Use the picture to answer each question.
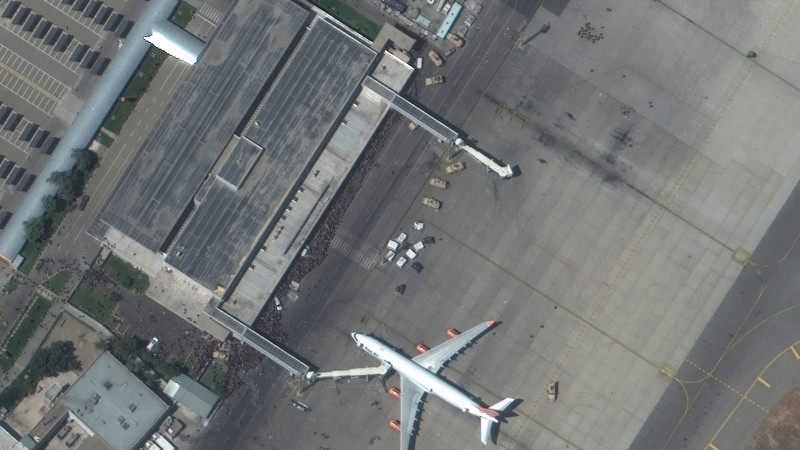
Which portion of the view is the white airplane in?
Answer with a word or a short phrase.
bottom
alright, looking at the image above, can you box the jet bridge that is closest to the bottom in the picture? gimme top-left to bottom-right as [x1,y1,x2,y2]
[305,359,390,384]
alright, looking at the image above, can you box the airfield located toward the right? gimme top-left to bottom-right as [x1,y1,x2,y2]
[259,0,800,450]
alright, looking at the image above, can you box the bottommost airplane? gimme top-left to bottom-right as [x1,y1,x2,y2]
[351,325,514,450]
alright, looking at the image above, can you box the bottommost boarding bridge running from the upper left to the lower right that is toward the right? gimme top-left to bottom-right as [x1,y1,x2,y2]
[454,137,513,177]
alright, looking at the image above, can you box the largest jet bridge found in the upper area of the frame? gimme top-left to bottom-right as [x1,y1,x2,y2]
[361,76,459,146]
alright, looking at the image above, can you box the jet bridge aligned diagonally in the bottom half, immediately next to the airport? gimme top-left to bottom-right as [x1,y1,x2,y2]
[203,297,311,378]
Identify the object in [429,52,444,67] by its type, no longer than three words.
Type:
vehicle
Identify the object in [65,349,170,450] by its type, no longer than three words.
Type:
building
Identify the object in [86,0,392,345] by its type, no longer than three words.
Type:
building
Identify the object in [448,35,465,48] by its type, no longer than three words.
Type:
vehicle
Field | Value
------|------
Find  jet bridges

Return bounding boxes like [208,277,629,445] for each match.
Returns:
[203,297,311,378]
[361,76,459,146]
[454,137,513,177]
[305,359,390,384]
